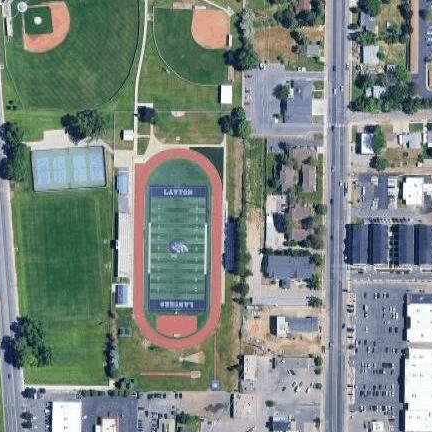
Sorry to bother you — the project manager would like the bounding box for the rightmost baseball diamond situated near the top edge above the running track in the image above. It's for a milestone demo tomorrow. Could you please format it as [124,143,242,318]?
[153,8,231,85]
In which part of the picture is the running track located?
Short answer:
center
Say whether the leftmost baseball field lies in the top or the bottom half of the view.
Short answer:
top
